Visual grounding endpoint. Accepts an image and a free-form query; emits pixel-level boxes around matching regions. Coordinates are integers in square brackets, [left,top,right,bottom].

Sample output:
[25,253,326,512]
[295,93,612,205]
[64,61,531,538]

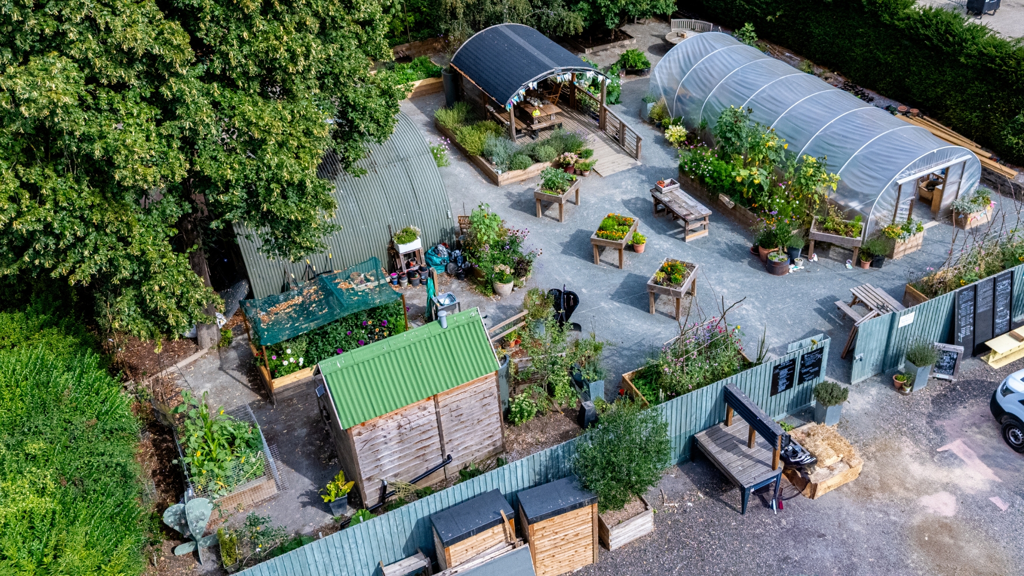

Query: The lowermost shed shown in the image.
[311,305,507,517]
